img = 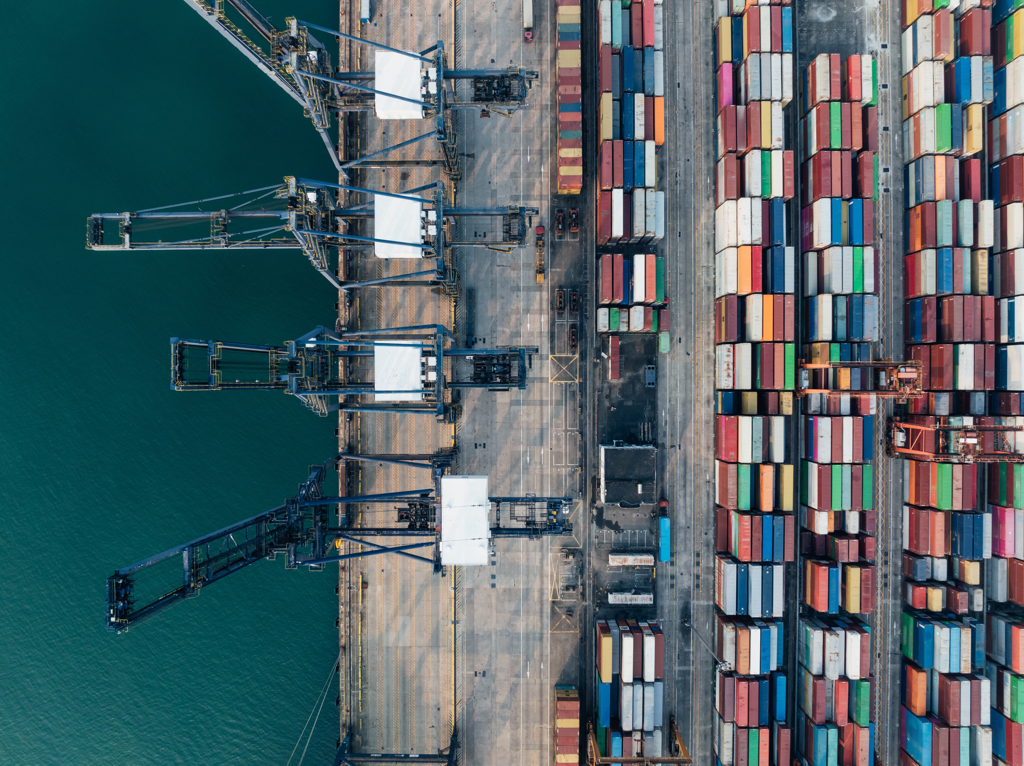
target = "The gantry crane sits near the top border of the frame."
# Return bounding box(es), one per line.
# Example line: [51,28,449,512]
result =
[186,0,551,190]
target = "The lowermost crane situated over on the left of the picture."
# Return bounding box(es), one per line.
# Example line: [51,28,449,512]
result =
[332,722,468,766]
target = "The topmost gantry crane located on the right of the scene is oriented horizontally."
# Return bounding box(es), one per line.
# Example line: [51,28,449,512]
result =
[798,358,928,401]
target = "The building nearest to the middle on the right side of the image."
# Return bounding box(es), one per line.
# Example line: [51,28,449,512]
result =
[599,438,656,510]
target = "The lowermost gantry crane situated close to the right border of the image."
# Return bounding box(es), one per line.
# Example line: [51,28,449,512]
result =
[889,415,1024,462]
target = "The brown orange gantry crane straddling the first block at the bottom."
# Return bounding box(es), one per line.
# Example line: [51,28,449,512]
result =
[585,714,693,766]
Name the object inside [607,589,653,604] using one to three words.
shed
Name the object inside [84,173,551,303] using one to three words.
container crane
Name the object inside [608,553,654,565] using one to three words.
shed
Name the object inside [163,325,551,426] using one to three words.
container crane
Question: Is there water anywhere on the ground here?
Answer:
Yes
